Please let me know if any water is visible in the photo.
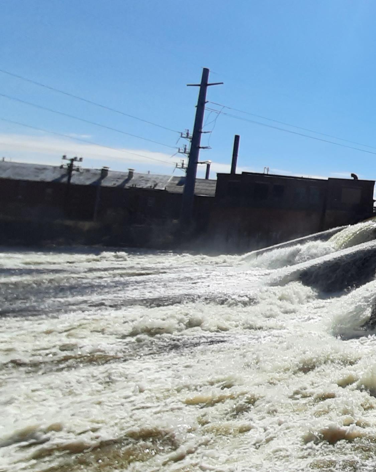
Yes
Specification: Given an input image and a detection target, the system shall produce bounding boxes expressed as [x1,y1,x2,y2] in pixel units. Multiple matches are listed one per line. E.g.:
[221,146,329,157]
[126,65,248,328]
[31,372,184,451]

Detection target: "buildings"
[213,134,376,254]
[0,157,185,238]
